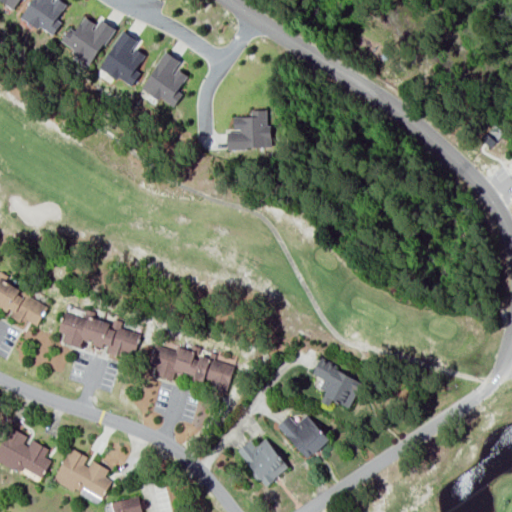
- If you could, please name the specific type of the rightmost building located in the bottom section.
house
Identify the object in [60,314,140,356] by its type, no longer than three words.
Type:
building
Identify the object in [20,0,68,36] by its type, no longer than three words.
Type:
house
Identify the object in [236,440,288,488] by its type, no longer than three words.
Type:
house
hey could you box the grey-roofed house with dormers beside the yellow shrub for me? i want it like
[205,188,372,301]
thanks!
[312,362,362,410]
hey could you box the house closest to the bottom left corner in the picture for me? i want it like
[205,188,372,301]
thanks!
[0,431,52,482]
